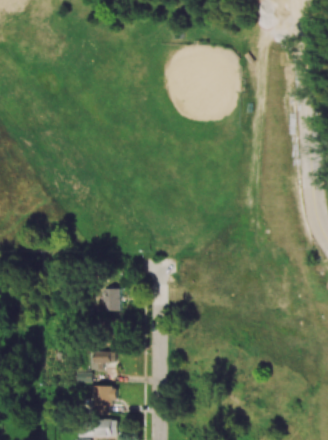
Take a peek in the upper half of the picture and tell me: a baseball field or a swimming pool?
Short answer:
baseball field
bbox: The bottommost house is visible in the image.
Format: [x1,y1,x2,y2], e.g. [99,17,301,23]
[78,420,118,438]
